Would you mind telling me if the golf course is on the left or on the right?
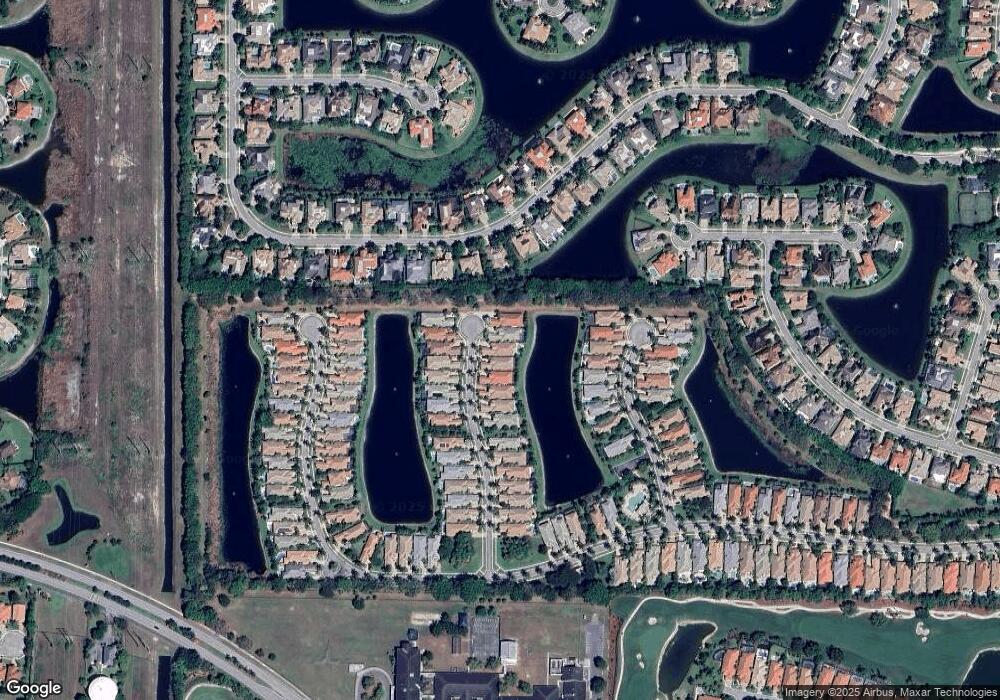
right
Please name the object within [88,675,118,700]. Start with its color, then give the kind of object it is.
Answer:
white water tank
